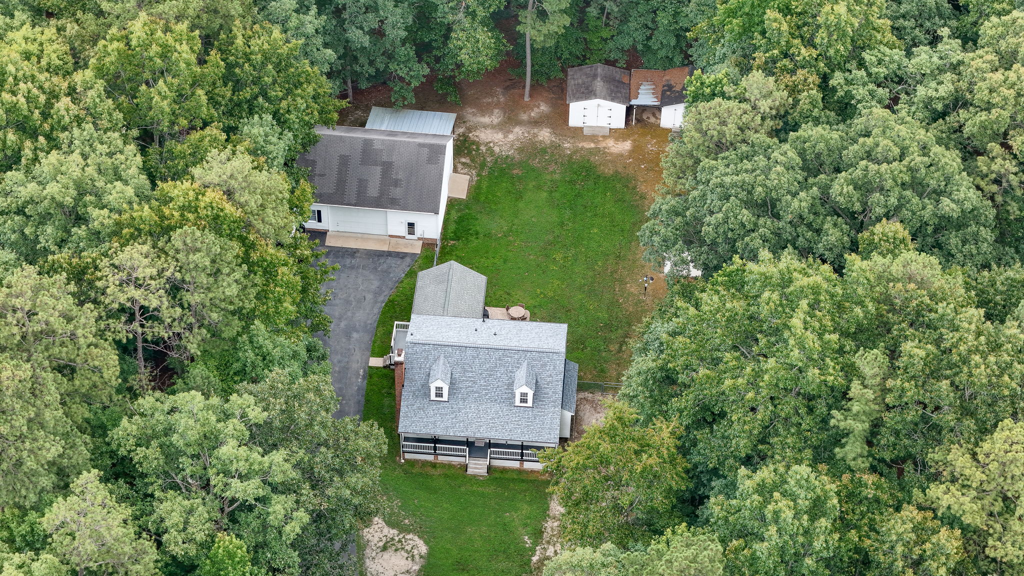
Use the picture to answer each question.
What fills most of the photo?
trees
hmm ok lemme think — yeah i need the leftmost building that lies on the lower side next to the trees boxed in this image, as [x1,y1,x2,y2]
[380,261,578,475]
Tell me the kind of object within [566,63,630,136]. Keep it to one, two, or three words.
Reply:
shed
